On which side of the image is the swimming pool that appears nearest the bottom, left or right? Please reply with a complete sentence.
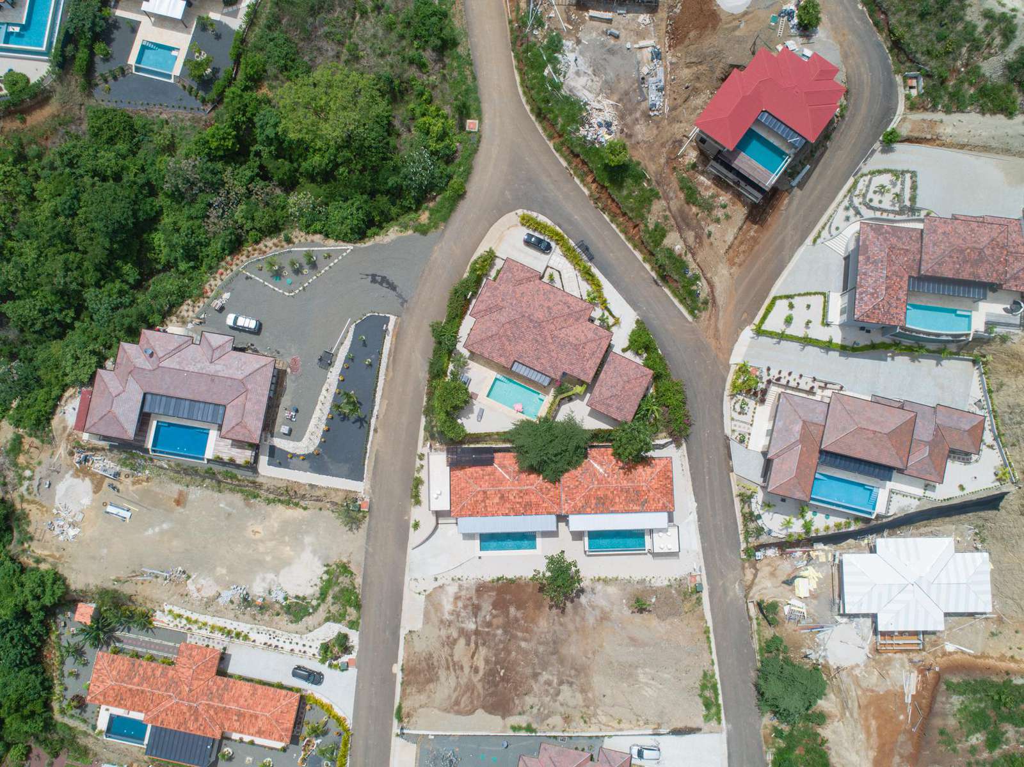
The swimming pool that appears nearest the bottom appears in the left half of the scene.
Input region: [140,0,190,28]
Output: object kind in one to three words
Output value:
building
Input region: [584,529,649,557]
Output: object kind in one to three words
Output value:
swimming pool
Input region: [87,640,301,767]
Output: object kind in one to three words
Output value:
house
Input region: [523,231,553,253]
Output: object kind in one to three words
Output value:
car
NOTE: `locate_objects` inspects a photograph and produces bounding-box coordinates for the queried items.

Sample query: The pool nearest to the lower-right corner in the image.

[803,468,882,517]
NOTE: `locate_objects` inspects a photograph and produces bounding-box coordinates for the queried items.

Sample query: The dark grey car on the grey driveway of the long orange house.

[290,666,323,689]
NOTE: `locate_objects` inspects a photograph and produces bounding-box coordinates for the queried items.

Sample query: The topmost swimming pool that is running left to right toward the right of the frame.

[903,301,974,336]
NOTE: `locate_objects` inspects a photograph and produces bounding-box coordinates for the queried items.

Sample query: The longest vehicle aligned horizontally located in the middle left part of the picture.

[225,314,259,333]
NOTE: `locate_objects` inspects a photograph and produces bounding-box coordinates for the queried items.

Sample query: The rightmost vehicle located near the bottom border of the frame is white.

[630,746,662,764]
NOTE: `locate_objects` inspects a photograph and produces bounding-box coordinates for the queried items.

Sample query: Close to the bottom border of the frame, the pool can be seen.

[102,709,152,749]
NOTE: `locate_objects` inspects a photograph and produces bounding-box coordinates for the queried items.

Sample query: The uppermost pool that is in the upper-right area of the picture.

[733,125,792,177]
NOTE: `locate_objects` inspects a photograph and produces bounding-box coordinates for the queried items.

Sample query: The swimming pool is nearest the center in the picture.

[481,368,553,425]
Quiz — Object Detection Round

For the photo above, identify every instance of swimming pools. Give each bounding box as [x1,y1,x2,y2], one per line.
[481,368,553,425]
[803,468,882,517]
[903,301,974,336]
[733,125,792,177]
[146,415,215,468]
[584,529,649,557]
[0,0,61,52]
[476,531,539,554]
[127,33,187,85]
[102,709,152,749]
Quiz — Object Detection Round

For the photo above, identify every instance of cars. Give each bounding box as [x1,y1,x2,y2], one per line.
[523,231,553,253]
[630,746,662,764]
[225,314,259,333]
[290,666,323,689]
